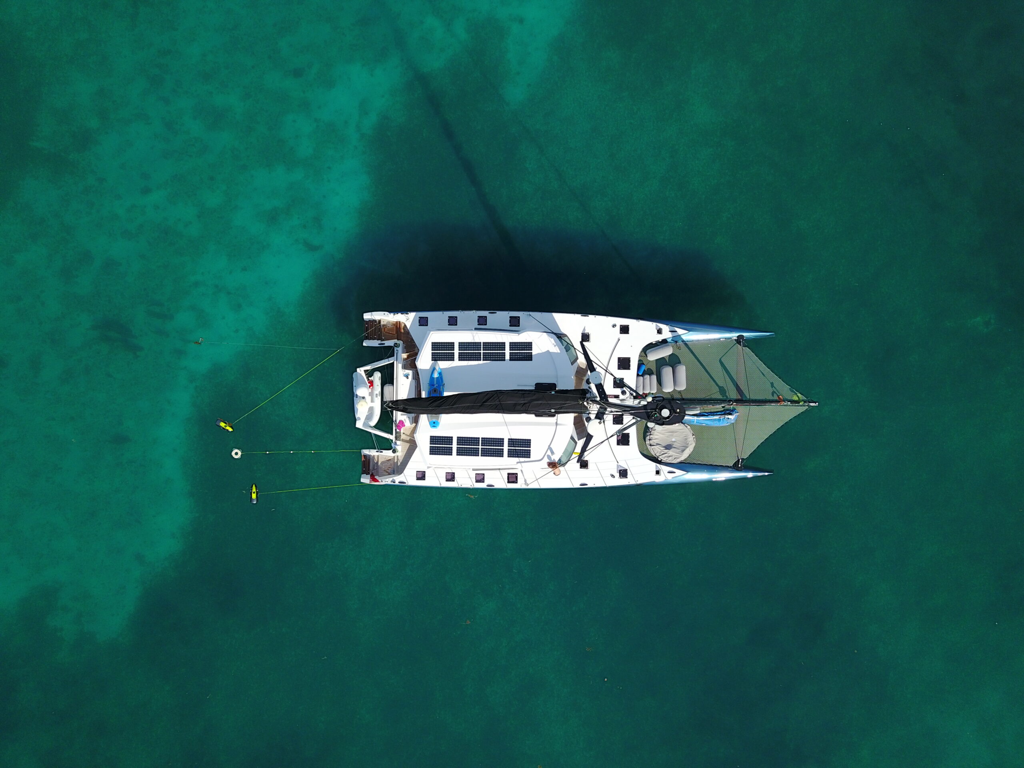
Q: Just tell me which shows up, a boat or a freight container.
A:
boat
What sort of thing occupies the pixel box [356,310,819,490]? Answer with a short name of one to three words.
boat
